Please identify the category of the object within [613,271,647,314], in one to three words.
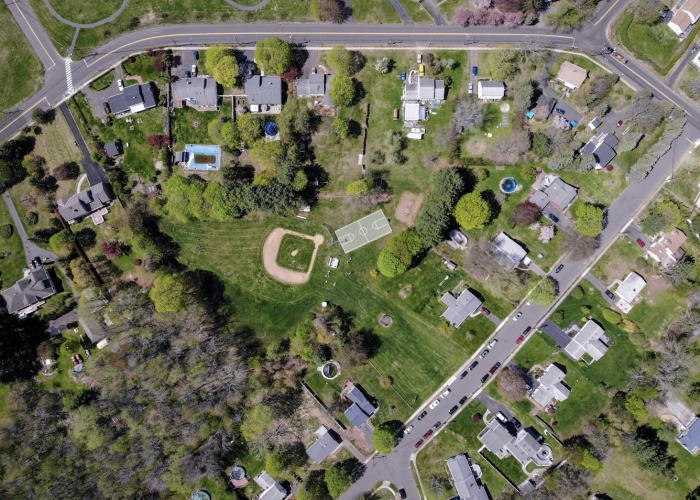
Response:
house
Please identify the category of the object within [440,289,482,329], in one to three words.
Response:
house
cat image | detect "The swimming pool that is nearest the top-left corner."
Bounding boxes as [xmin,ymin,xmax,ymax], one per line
[185,144,221,170]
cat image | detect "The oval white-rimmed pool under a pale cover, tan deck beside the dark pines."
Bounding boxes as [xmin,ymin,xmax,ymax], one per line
[445,227,470,250]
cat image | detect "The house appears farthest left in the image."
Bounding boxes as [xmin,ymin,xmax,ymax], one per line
[1,267,60,315]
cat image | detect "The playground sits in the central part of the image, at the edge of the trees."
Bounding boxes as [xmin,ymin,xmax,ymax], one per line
[396,191,425,226]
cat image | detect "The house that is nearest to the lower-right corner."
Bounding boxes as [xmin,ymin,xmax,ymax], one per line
[660,412,700,458]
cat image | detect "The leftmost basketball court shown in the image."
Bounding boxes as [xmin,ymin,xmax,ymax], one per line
[335,209,392,253]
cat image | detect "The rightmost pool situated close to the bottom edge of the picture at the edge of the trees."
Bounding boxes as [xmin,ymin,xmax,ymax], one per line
[230,458,250,488]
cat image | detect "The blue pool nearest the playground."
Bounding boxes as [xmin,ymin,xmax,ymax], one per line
[500,176,522,193]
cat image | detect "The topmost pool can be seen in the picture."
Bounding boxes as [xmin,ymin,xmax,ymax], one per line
[265,121,280,142]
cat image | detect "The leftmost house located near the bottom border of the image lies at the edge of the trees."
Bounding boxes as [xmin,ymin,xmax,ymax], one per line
[254,469,293,500]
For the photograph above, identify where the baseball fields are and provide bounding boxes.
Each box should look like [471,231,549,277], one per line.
[262,229,324,285]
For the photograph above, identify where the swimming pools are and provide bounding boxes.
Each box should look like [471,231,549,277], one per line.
[230,458,250,488]
[185,144,221,170]
[317,360,340,381]
[445,227,470,250]
[500,176,522,193]
[191,489,210,500]
[265,121,280,142]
